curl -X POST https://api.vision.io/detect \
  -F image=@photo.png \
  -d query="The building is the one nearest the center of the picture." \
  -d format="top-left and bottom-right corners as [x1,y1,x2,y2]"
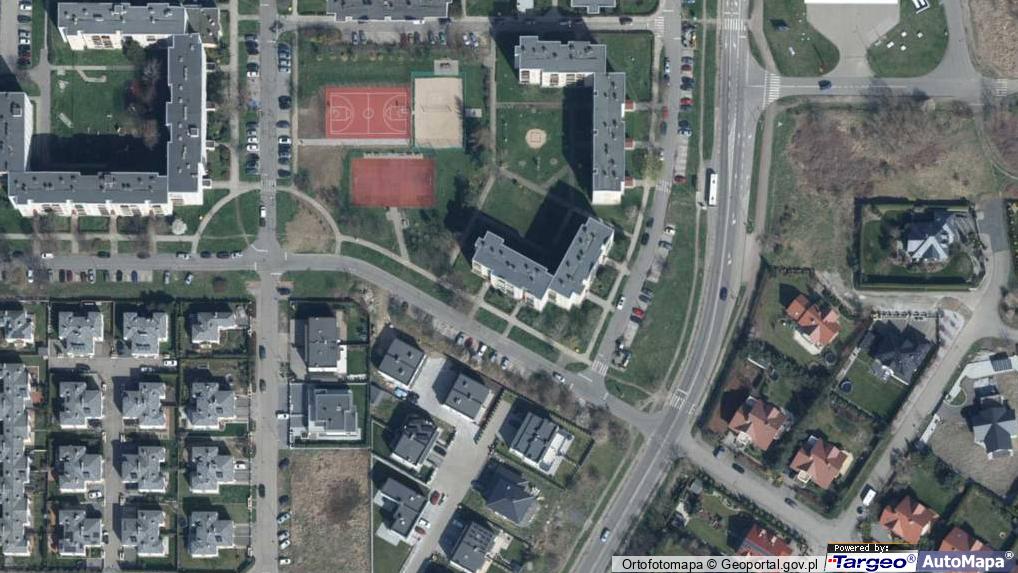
[472,232,555,308]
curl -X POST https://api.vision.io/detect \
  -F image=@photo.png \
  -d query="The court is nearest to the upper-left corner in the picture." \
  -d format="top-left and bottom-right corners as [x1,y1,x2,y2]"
[326,88,411,138]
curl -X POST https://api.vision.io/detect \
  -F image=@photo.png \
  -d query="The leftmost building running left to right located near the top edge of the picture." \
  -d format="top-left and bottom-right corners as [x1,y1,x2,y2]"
[58,2,189,51]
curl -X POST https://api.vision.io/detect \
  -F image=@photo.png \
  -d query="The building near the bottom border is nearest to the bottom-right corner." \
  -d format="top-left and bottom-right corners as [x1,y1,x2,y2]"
[928,524,987,573]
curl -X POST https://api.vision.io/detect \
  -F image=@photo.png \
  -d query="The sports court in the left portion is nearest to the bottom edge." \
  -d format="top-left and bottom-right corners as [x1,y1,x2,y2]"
[352,158,435,208]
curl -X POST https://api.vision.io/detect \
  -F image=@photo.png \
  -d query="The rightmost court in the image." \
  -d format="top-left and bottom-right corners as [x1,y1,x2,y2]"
[413,74,465,149]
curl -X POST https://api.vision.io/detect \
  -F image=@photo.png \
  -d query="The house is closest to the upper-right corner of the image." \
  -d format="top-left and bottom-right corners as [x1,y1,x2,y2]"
[907,212,956,265]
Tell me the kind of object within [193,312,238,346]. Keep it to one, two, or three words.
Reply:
house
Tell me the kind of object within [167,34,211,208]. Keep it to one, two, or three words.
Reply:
building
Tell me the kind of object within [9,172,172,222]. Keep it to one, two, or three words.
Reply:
building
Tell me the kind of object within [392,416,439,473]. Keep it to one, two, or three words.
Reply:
house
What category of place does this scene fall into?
residential area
